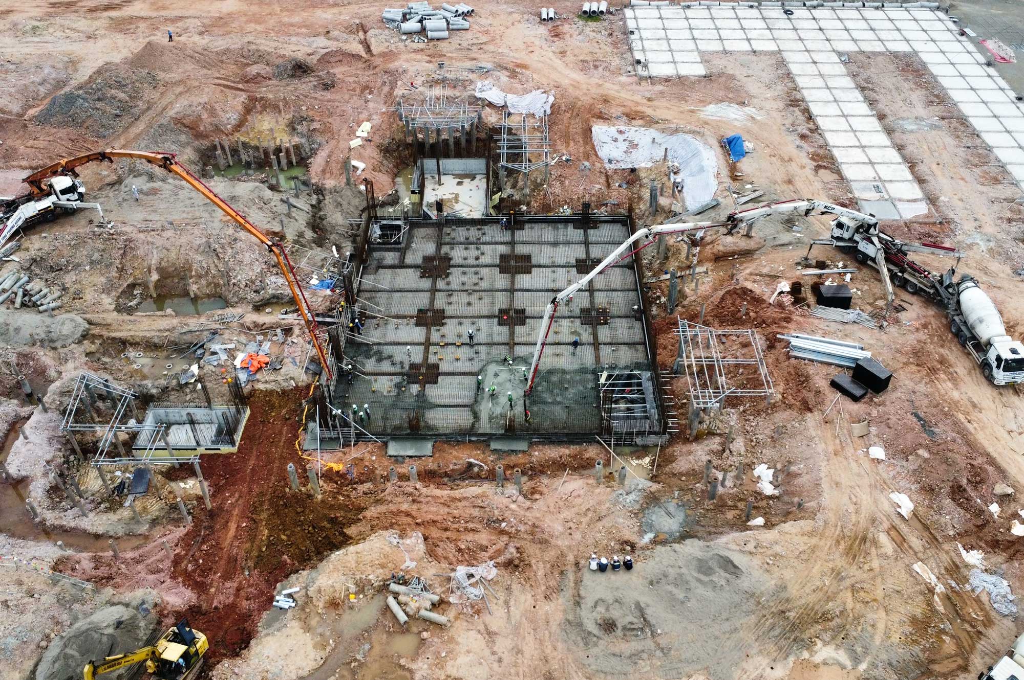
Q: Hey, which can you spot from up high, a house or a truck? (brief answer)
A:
truck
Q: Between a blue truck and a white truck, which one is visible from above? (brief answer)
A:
white truck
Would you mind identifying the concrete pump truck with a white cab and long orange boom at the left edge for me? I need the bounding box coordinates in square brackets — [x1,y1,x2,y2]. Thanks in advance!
[0,148,336,399]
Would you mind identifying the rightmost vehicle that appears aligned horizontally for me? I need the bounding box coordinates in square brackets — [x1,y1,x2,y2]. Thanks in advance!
[524,197,966,425]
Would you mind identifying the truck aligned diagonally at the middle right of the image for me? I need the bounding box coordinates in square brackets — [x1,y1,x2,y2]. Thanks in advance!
[948,277,1024,380]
